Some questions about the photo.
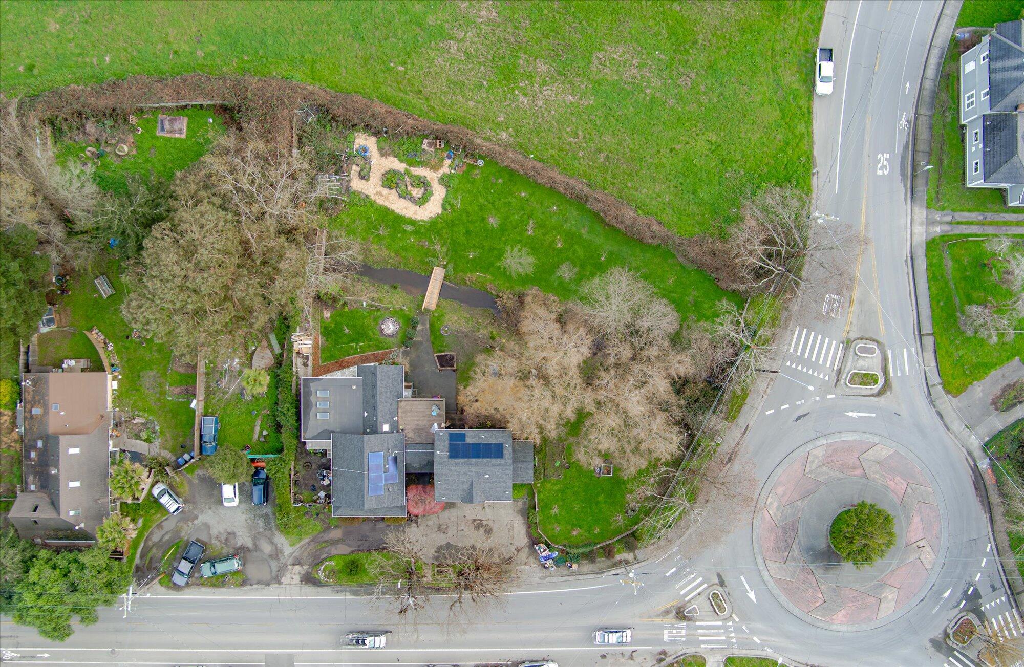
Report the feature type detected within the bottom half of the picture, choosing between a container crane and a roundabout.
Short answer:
roundabout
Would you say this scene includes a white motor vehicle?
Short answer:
Yes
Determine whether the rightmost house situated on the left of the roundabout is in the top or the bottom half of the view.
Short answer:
bottom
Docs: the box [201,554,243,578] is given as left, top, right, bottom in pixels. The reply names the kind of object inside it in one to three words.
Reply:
car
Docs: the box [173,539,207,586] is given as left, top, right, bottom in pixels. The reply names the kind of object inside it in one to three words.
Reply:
truck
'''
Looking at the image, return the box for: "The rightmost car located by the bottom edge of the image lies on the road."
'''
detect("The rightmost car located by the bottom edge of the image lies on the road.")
[593,626,632,647]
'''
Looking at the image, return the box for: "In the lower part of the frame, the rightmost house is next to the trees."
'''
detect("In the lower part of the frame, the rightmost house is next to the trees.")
[405,429,533,504]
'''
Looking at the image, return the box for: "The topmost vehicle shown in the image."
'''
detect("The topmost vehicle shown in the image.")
[813,47,836,97]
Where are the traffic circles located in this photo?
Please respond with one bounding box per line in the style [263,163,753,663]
[752,433,950,631]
